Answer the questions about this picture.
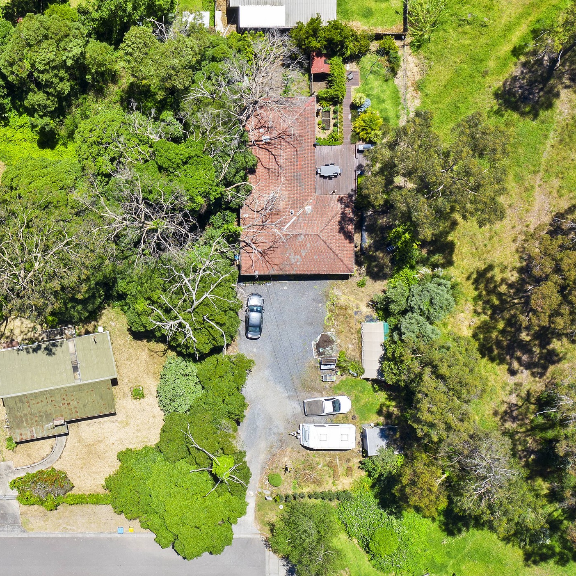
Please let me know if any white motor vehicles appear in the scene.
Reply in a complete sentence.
Yes, there's a white motor vehicle here.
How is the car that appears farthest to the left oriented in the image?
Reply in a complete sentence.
The car that appears farthest to the left is oriented from top to bottom.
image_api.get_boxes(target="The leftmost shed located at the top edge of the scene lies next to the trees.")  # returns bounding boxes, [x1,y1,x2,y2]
[181,11,209,33]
